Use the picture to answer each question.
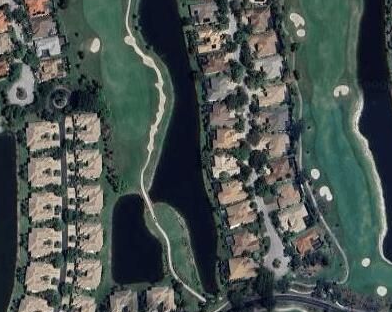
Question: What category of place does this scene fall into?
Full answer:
It's a residential area.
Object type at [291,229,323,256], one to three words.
house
